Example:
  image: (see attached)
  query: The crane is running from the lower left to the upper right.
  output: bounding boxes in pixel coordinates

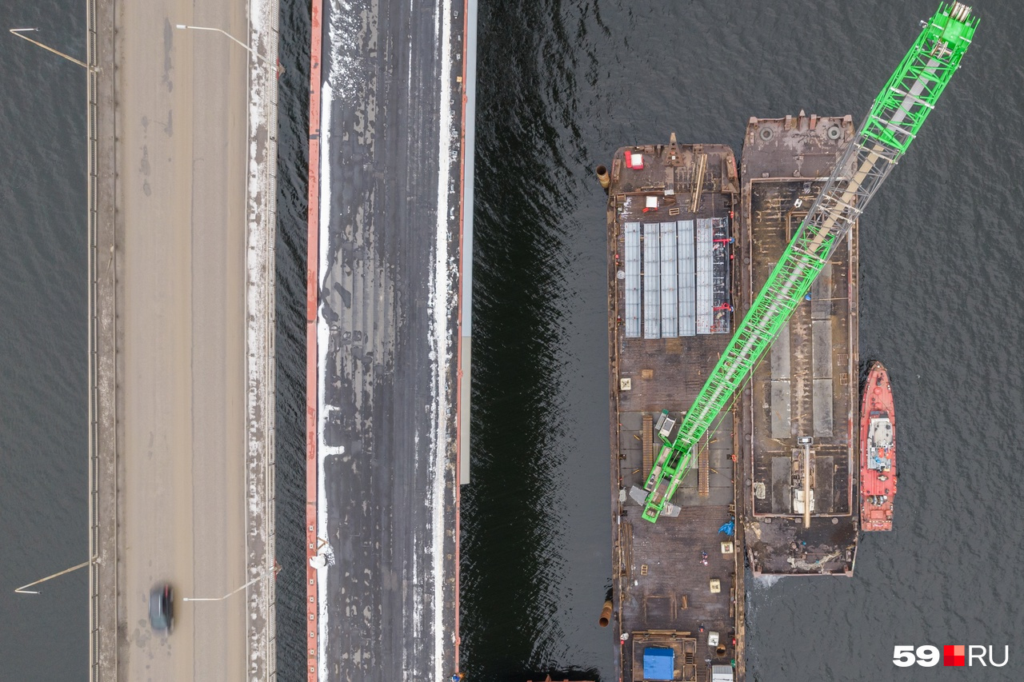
[629,0,981,523]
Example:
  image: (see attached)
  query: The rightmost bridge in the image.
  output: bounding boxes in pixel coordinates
[307,0,480,682]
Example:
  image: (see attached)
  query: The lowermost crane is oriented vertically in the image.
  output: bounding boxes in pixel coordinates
[792,437,815,527]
